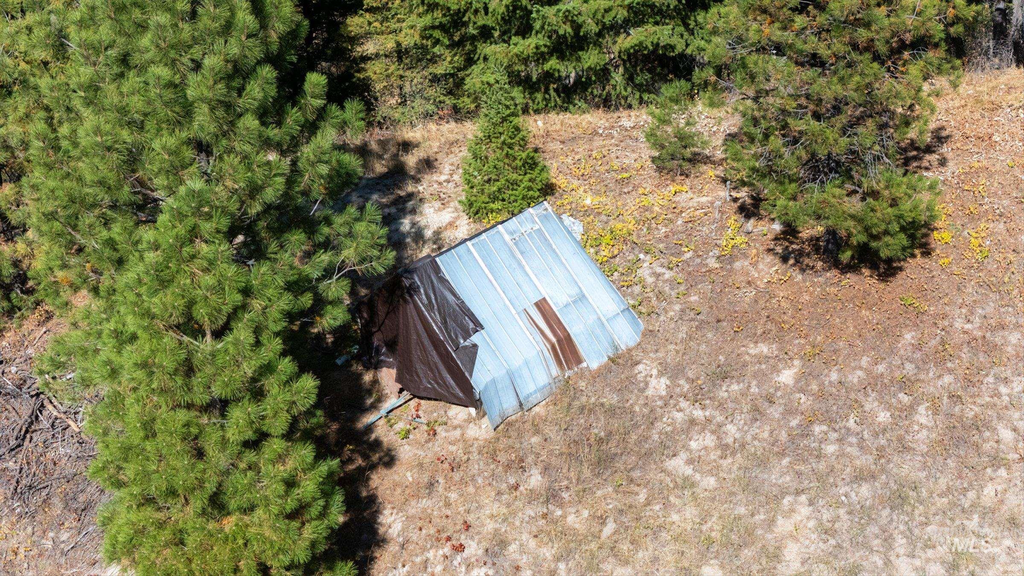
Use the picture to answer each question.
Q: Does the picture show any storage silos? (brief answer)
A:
No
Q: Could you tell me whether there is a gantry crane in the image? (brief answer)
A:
No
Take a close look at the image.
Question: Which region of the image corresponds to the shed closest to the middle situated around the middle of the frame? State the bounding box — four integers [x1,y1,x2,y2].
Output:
[376,198,645,427]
